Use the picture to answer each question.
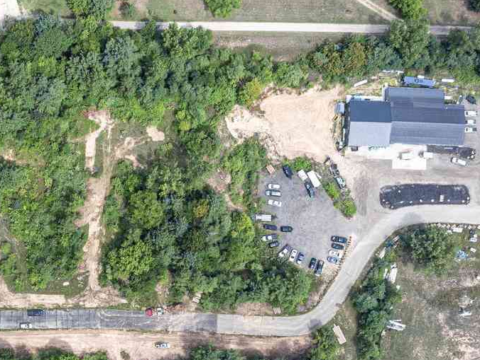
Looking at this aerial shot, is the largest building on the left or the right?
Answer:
right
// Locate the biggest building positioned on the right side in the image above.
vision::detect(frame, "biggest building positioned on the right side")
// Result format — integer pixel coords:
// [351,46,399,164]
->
[345,87,468,148]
